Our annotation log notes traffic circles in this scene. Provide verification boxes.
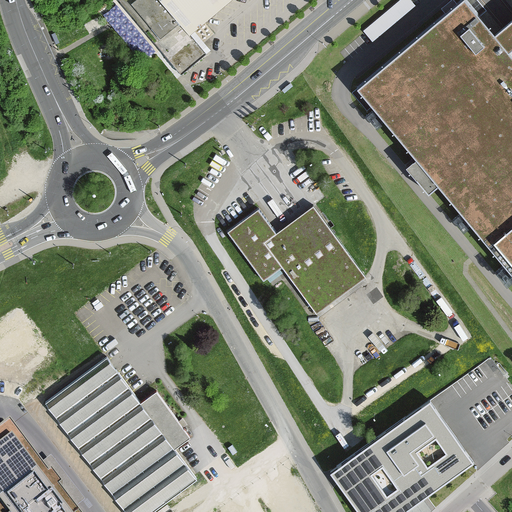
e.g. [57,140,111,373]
[46,142,144,242]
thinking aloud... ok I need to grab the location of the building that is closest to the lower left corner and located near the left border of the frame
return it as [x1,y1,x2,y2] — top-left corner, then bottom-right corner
[0,416,84,512]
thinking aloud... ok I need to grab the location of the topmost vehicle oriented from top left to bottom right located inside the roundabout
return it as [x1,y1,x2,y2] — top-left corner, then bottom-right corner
[107,152,136,193]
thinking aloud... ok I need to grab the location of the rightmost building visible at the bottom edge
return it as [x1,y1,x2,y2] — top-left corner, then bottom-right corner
[330,400,474,512]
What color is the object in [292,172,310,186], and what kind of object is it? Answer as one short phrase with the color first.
white vehicle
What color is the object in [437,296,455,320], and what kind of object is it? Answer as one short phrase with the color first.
white vehicle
